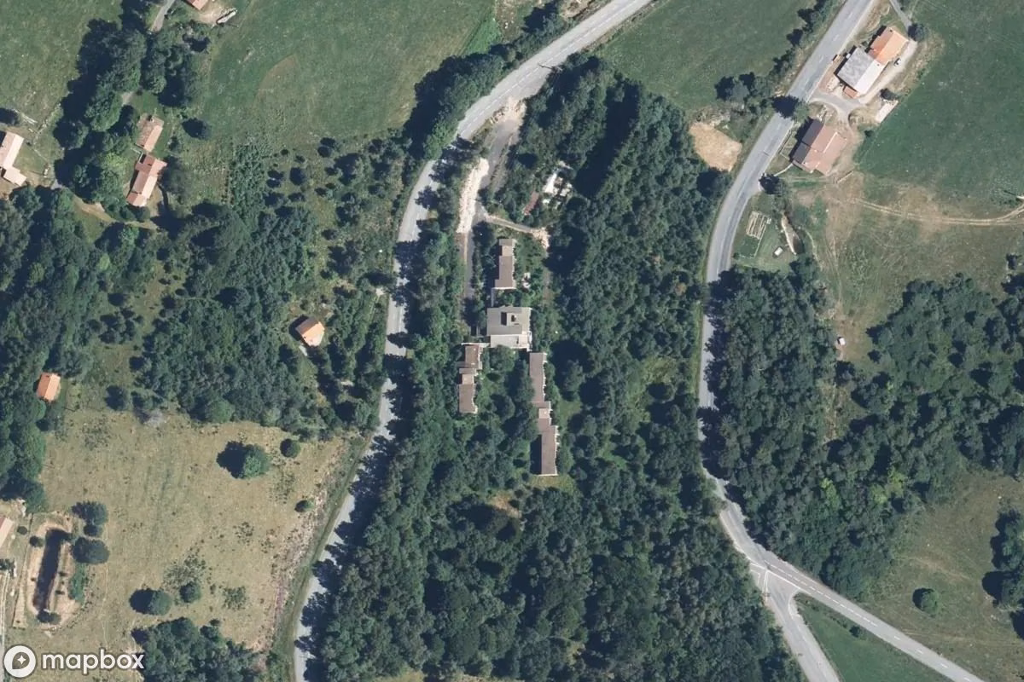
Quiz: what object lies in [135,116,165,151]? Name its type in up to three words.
barn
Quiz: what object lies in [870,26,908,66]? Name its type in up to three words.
house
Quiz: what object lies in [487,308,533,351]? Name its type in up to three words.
building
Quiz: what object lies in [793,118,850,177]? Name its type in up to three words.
barn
